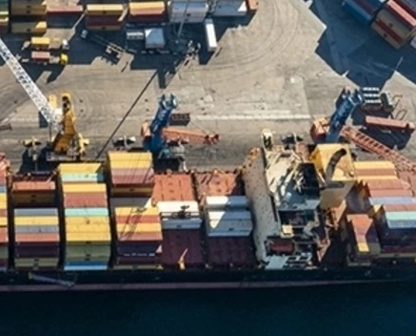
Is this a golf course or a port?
port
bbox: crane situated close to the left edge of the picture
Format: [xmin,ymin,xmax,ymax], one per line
[0,28,89,170]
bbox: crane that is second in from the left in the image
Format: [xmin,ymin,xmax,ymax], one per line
[125,90,226,168]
